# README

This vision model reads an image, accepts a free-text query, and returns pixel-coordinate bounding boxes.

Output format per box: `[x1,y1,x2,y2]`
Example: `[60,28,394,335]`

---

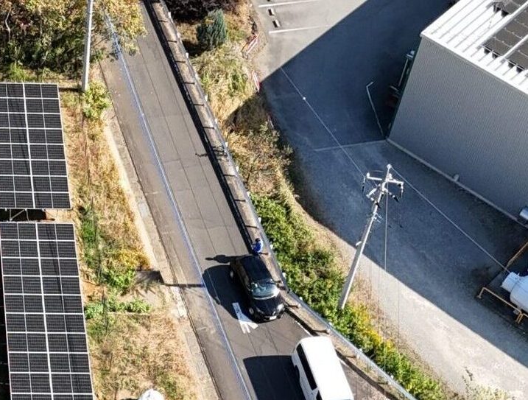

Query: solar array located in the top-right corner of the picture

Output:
[477,0,528,79]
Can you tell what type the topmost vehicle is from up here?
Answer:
car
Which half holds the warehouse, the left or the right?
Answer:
right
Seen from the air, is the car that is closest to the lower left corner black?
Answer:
Yes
